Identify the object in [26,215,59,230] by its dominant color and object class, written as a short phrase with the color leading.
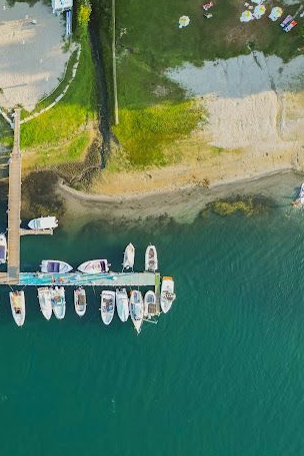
white boat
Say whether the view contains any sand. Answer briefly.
Yes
